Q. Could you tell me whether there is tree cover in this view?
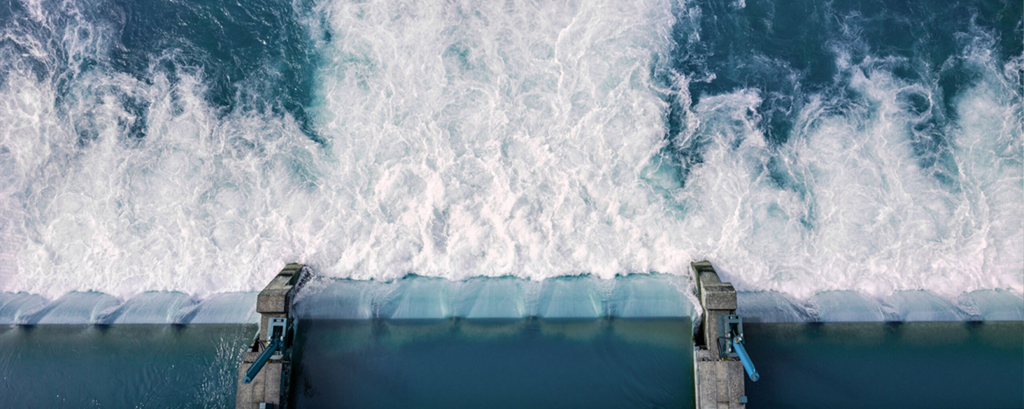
No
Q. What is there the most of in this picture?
water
